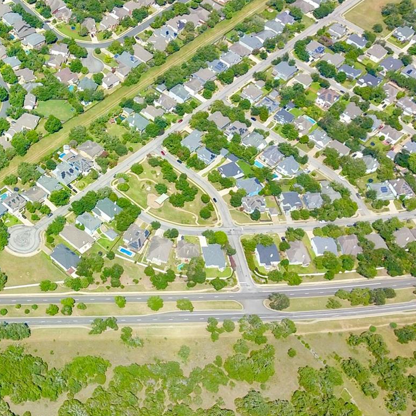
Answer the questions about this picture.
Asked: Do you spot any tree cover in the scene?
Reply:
Yes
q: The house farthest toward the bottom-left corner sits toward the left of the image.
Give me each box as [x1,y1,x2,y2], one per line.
[48,242,84,274]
